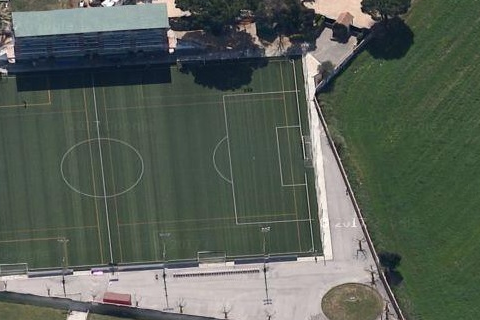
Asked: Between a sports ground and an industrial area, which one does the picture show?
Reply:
sports ground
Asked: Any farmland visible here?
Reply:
Yes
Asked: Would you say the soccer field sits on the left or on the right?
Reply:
left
